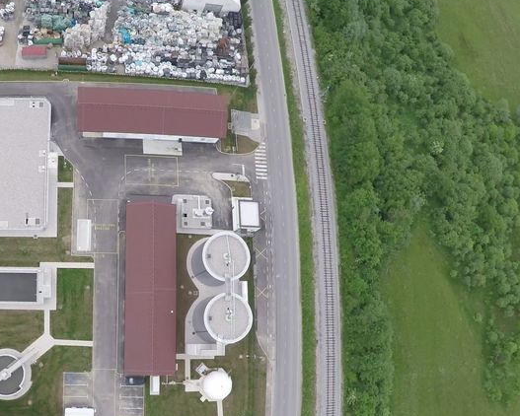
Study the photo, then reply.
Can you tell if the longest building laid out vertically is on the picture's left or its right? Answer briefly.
left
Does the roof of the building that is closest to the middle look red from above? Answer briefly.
No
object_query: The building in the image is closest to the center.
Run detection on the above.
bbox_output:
[232,198,260,232]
